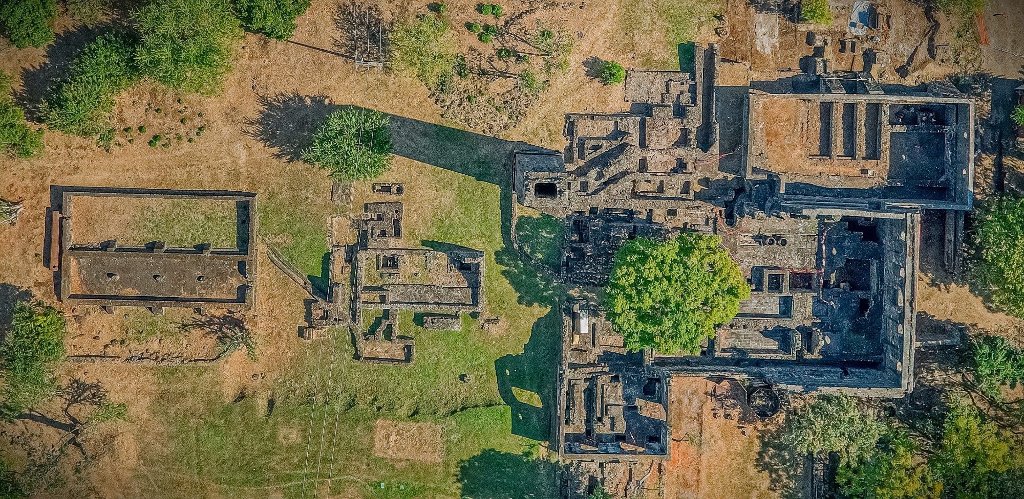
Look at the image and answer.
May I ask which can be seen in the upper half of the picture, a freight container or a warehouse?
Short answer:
warehouse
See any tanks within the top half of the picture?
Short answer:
No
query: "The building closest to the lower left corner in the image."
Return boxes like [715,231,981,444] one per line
[62,190,260,315]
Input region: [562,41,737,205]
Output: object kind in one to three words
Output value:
house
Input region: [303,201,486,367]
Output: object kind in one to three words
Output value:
house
